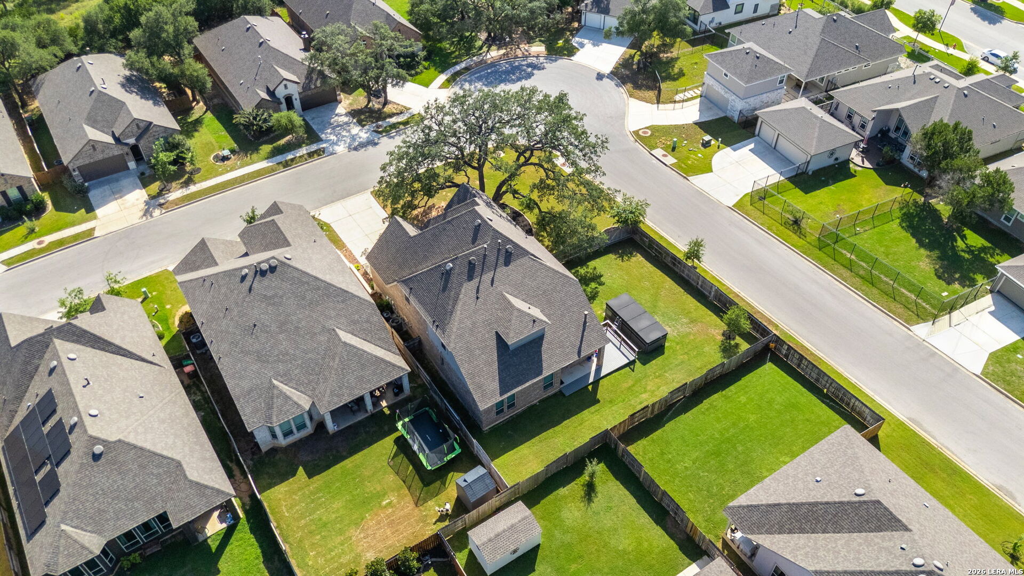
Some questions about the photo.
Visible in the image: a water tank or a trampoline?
trampoline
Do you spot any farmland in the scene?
No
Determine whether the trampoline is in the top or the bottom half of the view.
bottom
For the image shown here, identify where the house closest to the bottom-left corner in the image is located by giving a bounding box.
[0,293,244,576]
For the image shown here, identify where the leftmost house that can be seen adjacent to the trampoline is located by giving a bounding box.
[172,201,410,447]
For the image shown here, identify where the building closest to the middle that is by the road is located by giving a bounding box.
[367,183,609,425]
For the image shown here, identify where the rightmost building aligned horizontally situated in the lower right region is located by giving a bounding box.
[721,424,1024,576]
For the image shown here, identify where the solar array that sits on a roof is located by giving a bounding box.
[4,389,70,535]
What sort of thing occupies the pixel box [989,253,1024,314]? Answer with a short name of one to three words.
building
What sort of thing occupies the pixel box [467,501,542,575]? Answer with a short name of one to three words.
shed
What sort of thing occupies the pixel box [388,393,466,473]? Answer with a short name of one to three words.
trampoline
